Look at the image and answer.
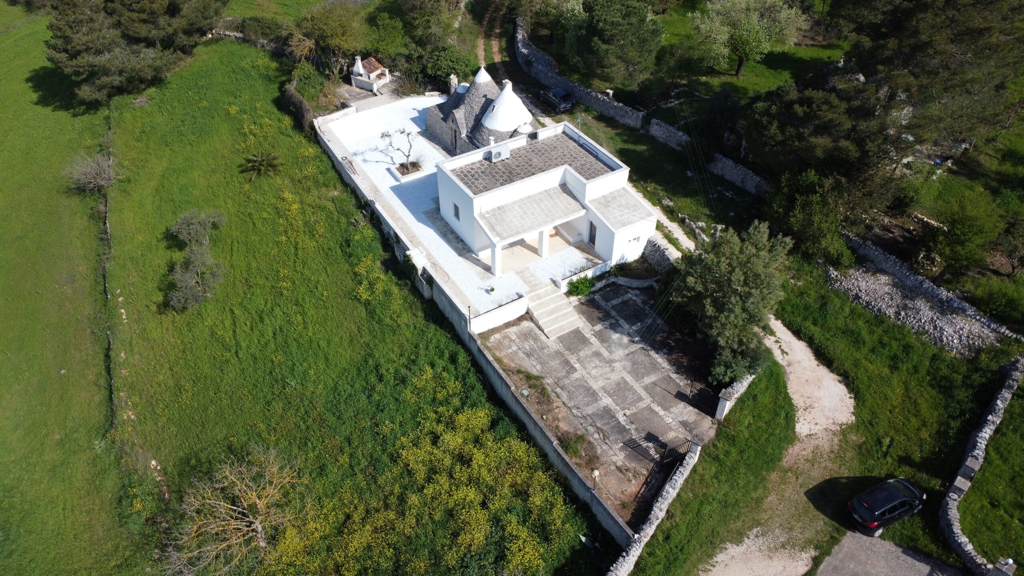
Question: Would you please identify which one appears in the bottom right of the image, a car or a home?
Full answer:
What appears in the bottom right of the image is a car.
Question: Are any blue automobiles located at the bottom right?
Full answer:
No, no blue automobile can be made out at the bottom right.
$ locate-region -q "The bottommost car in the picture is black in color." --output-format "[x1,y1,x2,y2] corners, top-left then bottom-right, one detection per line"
[844,472,929,536]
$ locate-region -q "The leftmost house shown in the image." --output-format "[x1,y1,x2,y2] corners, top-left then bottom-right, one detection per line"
[350,45,400,92]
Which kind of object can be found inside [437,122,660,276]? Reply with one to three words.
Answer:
house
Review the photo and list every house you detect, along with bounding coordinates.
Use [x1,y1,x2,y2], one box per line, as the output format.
[350,45,400,92]
[437,122,660,276]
